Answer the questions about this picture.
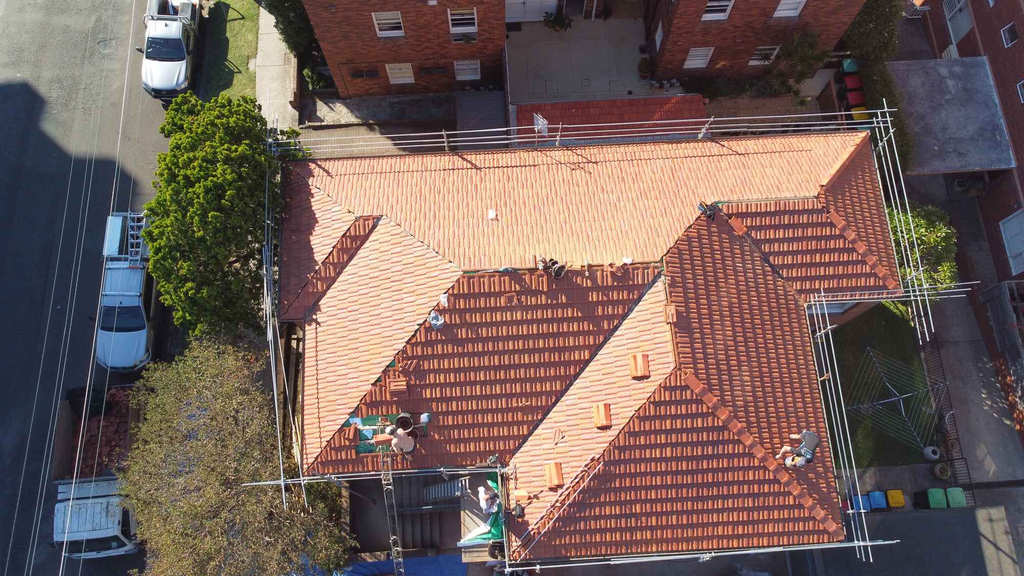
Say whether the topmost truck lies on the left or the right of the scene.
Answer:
left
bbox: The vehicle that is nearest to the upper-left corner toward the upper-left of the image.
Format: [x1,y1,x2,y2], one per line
[131,0,202,110]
